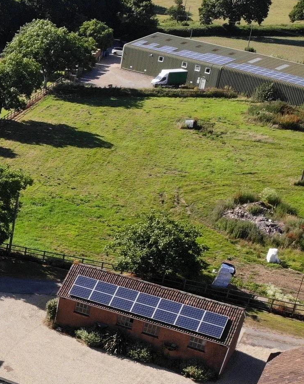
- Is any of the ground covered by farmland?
Yes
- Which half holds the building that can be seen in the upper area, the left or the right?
right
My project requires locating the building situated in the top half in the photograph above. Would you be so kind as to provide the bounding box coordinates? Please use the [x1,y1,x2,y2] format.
[120,32,304,112]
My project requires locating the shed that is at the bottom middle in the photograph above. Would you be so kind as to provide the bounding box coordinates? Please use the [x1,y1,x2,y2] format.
[54,262,245,377]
